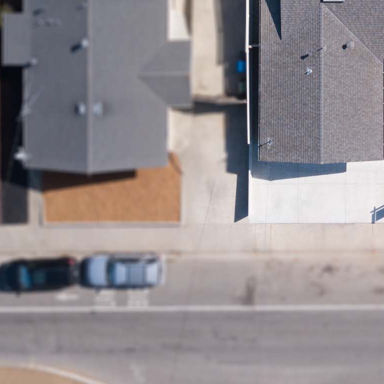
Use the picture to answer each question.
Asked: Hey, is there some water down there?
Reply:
No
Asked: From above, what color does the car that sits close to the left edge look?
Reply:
black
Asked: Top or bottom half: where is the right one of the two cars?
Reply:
bottom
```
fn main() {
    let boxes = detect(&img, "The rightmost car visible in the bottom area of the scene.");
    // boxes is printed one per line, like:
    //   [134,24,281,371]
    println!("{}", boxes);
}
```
[87,253,165,291]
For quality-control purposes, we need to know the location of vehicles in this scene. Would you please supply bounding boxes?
[1,256,77,296]
[87,253,165,291]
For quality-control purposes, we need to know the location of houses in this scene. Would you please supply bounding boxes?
[3,0,195,194]
[257,0,384,164]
